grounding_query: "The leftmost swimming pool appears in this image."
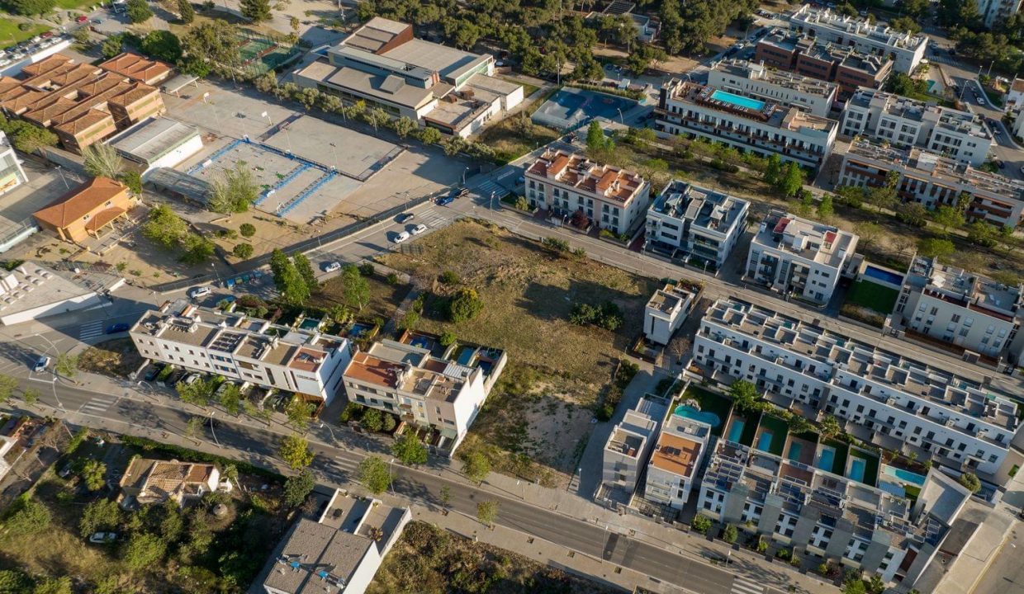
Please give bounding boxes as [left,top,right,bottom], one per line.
[298,317,318,331]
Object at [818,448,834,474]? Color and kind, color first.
blue swimming pool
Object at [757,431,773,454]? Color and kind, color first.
blue swimming pool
